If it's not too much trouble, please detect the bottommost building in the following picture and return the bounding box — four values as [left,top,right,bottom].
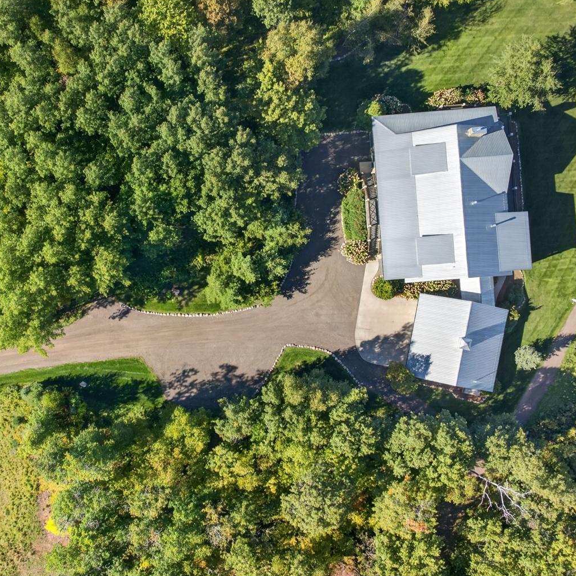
[407,293,508,392]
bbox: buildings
[367,107,533,283]
[407,293,508,392]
